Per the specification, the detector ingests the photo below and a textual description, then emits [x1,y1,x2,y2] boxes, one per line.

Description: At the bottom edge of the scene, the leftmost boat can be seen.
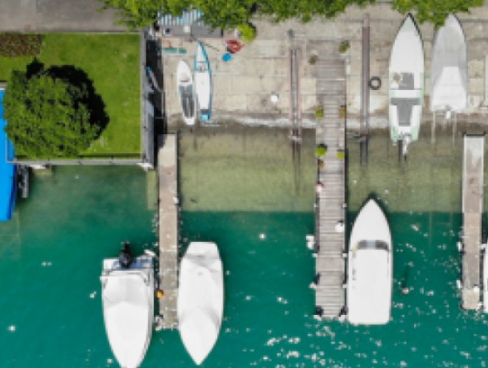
[101,235,156,368]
